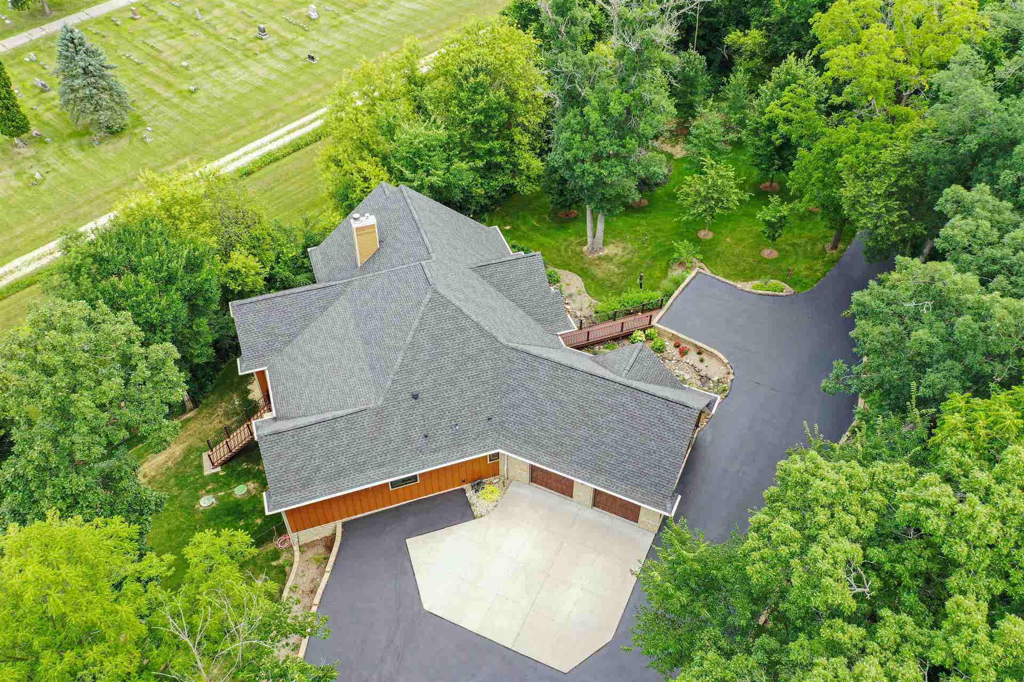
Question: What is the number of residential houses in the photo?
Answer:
1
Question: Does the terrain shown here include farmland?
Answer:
No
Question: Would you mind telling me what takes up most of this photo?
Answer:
trees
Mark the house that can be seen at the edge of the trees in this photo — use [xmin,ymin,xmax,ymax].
[231,180,721,542]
